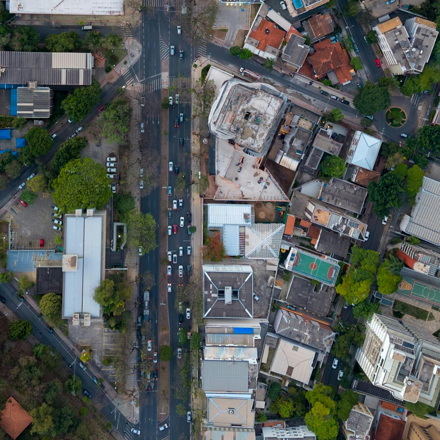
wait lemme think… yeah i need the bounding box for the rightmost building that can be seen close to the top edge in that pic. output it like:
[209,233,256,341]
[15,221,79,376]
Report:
[367,16,438,73]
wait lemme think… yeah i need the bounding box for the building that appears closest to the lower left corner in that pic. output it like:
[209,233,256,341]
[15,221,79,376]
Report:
[0,394,35,440]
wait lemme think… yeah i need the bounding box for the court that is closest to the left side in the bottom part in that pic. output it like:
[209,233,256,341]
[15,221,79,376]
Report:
[292,252,337,284]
